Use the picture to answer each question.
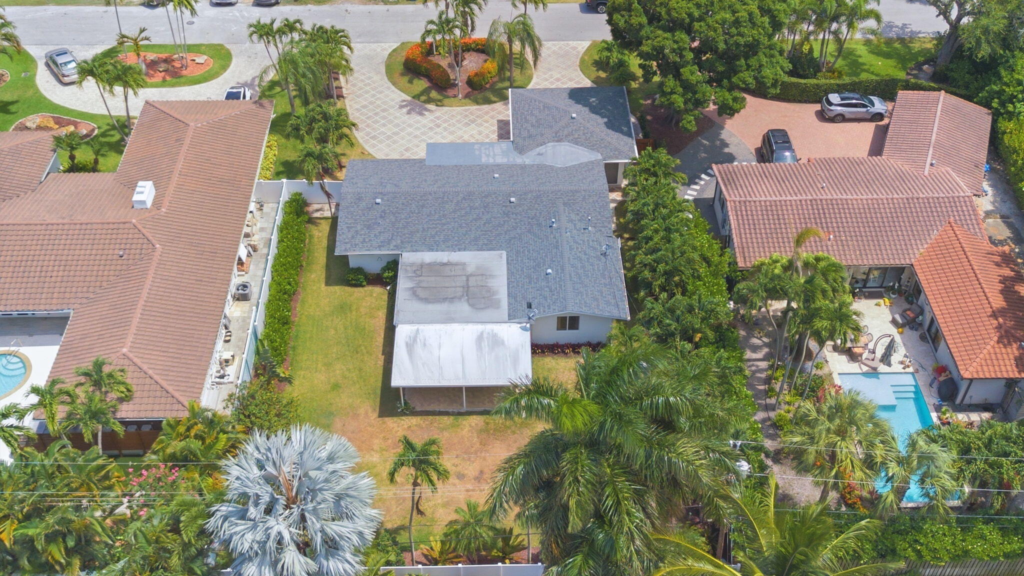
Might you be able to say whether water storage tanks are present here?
No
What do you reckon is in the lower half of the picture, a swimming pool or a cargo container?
swimming pool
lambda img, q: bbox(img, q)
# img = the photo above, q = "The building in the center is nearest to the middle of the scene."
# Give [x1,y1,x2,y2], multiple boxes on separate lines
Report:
[334,86,638,412]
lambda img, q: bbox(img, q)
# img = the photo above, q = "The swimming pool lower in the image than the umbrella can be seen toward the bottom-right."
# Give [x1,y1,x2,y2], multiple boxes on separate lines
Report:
[832,369,965,510]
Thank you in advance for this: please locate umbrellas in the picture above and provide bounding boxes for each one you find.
[864,322,911,365]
